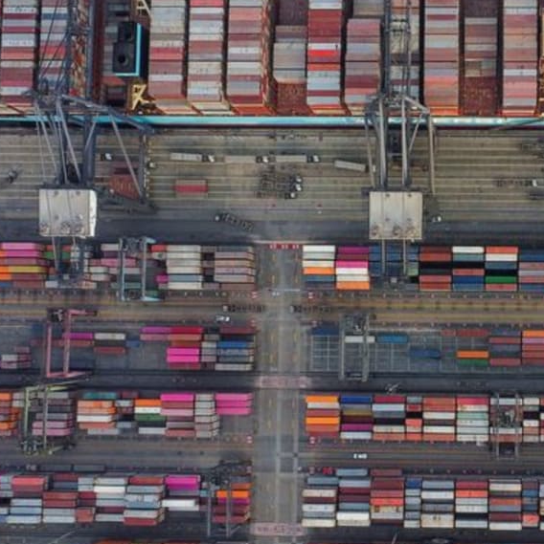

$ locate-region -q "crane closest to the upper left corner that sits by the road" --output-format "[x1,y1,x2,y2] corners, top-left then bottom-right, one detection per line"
[33,0,157,279]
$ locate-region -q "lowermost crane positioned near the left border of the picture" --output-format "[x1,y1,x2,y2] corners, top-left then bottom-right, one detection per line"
[22,382,77,454]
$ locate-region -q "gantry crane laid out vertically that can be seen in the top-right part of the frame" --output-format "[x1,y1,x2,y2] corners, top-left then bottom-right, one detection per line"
[359,0,443,283]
